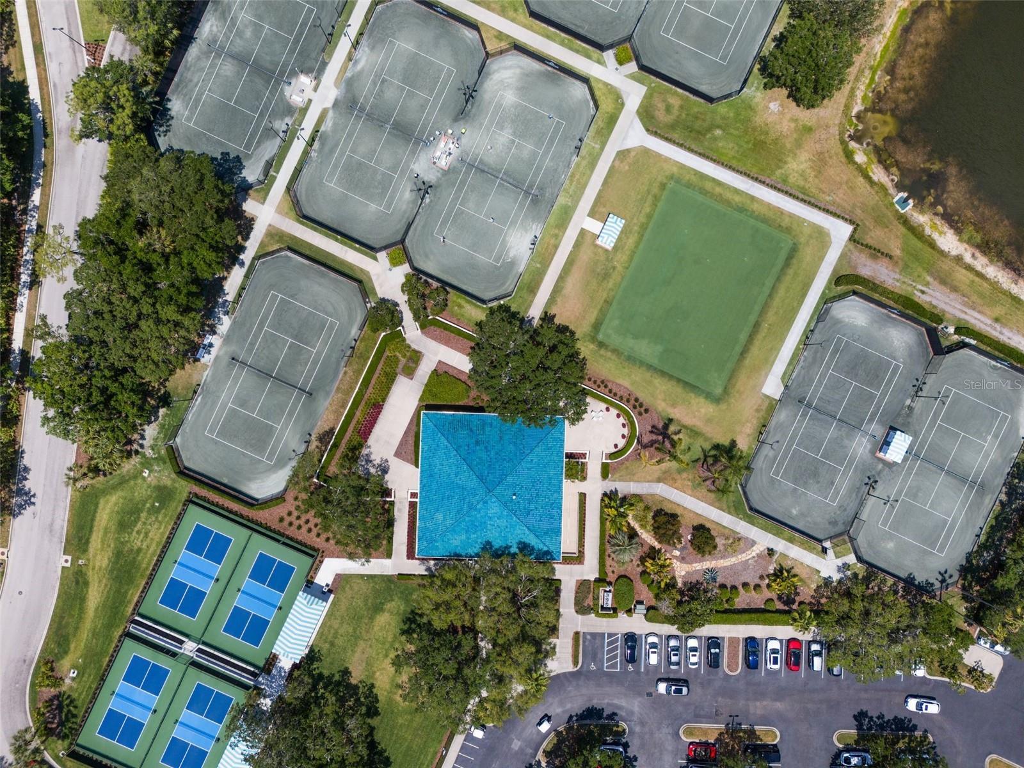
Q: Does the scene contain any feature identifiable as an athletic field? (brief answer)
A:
Yes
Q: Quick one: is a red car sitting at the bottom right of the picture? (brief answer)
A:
Yes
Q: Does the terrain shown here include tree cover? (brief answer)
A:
Yes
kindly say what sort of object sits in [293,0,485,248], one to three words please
tennis court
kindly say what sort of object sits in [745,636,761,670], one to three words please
car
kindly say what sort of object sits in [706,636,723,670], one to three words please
car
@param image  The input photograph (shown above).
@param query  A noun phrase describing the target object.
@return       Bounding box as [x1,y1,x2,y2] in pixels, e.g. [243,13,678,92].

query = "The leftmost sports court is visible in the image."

[75,638,187,768]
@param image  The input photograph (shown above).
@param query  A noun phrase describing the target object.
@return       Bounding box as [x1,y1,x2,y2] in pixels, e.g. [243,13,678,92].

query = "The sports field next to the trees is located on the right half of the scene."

[596,178,796,402]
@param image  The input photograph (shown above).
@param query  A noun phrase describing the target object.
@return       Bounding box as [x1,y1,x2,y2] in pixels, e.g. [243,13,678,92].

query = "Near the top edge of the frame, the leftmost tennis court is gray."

[154,0,346,190]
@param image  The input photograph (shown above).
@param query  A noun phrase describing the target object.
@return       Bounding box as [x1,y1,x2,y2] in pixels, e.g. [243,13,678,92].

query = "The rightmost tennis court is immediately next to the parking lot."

[847,347,1024,593]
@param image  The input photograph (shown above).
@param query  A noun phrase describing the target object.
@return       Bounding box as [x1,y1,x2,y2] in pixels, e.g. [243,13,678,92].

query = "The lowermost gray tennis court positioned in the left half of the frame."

[175,252,368,503]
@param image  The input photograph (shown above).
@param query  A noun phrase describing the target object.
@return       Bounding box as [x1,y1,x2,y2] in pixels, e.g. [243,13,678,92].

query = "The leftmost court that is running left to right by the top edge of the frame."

[524,0,648,46]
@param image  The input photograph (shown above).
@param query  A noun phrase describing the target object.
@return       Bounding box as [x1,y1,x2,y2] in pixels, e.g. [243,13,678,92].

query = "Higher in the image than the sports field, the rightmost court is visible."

[629,0,782,103]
